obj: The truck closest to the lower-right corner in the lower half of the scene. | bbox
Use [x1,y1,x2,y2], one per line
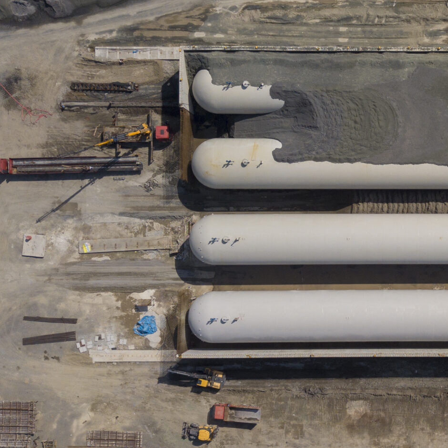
[212,402,262,425]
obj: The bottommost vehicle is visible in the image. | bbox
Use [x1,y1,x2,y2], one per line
[179,423,220,441]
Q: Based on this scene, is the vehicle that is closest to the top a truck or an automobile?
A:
truck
